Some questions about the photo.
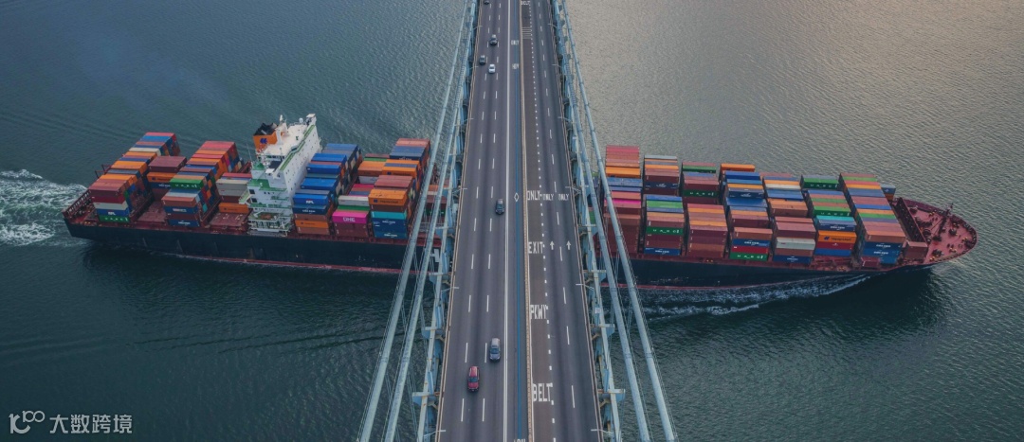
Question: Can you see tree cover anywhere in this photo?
No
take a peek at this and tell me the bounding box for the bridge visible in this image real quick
[360,0,681,442]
